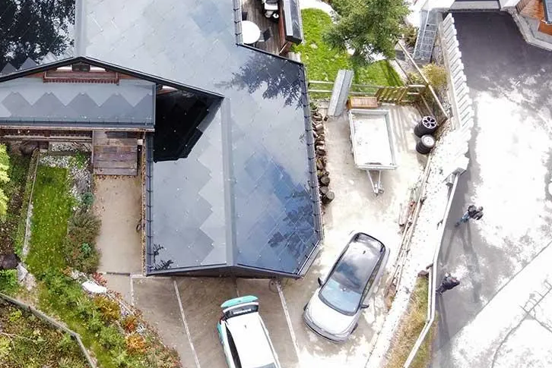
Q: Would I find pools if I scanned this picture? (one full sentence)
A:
No, I find no pool anywhere in the image.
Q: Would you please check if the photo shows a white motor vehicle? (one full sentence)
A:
Yes, the photo shows a white motor vehicle.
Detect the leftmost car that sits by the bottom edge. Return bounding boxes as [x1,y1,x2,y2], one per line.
[208,282,283,368]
